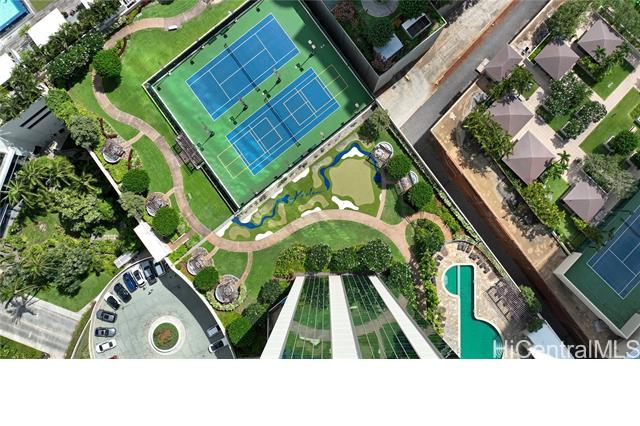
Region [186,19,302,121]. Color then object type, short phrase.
blue tennis court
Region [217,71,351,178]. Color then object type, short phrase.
blue tennis court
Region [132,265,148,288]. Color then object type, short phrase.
white car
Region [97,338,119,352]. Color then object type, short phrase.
white car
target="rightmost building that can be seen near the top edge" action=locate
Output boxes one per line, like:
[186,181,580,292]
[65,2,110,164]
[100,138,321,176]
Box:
[571,18,624,63]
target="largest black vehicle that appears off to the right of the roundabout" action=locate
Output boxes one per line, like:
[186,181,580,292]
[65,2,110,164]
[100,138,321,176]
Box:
[207,338,227,354]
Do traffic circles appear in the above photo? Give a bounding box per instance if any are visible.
[148,318,184,355]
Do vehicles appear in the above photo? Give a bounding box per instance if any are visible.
[207,338,227,354]
[97,338,119,352]
[112,282,134,304]
[154,257,168,277]
[132,265,148,288]
[139,257,158,285]
[96,327,117,338]
[121,270,141,294]
[102,291,123,312]
[96,309,119,322]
